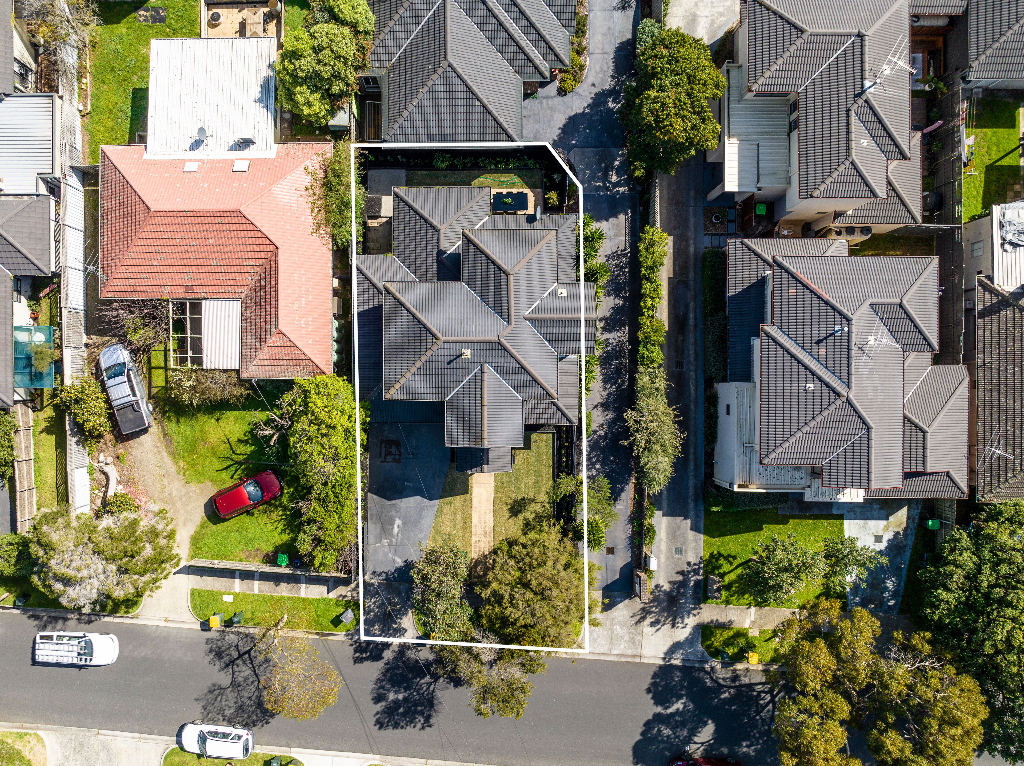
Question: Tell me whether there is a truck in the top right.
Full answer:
No, no truck appears in the top right.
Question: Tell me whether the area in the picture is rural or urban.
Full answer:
The land in this view is best described as urban.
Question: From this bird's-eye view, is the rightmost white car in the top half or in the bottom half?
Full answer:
It is in the bottom half that the rightmost white car appears.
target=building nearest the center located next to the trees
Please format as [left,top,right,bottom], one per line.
[351,184,599,475]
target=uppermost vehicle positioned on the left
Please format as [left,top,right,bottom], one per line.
[96,341,155,436]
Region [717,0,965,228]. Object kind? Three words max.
house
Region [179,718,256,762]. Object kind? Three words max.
car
